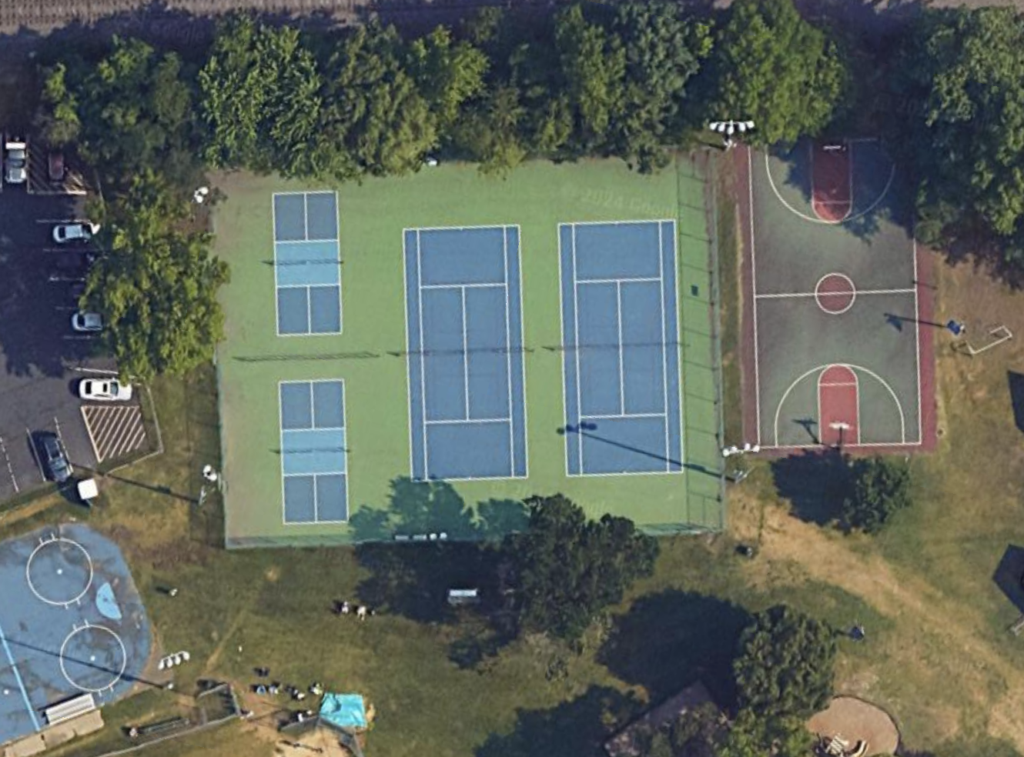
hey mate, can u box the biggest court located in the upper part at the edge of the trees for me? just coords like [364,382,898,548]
[734,129,939,459]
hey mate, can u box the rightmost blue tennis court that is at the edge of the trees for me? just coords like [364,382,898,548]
[559,220,684,475]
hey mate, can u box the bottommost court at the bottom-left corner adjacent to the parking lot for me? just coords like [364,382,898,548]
[0,525,151,745]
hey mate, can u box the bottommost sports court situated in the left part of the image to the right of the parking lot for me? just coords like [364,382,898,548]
[279,380,349,524]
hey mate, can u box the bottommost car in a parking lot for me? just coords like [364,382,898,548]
[40,431,72,485]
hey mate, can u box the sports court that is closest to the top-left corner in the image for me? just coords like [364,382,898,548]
[272,191,342,335]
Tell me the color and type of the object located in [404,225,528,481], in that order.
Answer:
blue tennis court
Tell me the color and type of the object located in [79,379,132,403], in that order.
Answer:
white car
